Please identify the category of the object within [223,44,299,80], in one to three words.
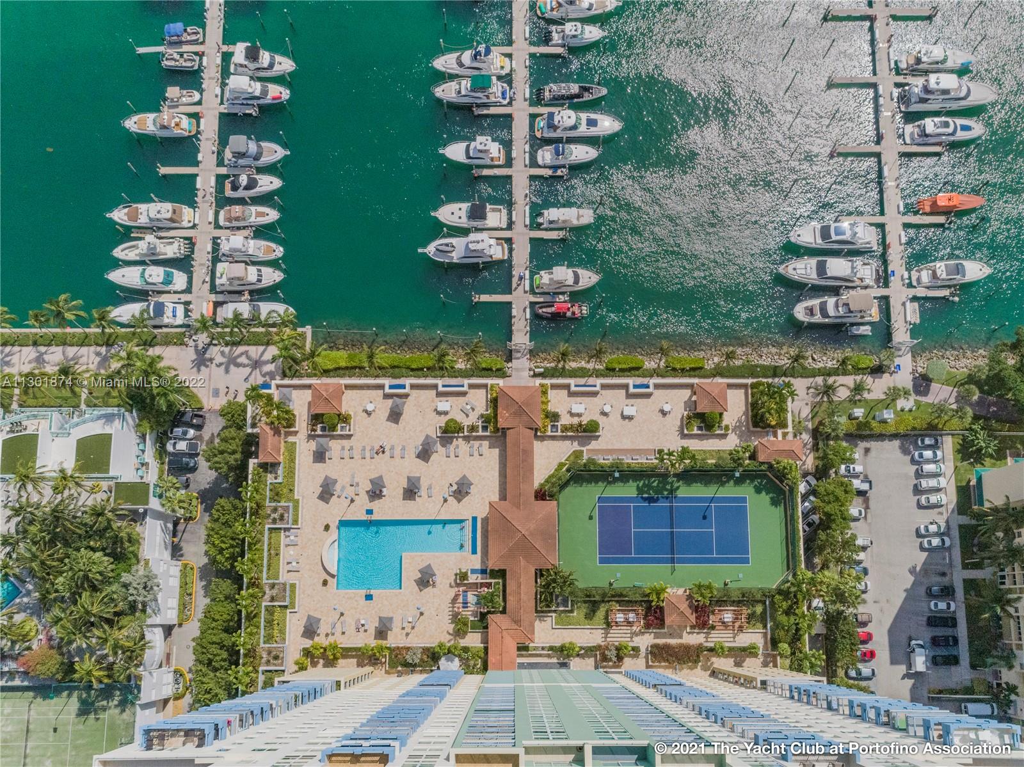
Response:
boat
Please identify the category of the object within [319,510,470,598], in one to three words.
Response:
swimming pool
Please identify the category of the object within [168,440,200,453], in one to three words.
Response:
vehicle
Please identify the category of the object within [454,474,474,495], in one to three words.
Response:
umbrella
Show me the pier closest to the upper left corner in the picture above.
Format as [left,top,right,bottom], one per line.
[128,0,261,326]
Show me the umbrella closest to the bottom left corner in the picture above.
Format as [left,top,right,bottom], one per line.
[303,613,323,633]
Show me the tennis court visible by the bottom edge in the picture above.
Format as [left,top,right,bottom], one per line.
[0,685,131,767]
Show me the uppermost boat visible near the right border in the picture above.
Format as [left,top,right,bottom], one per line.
[889,49,979,78]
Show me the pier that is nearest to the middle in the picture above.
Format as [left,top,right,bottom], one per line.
[472,0,570,376]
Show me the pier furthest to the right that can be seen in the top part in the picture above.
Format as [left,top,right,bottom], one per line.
[826,0,960,375]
